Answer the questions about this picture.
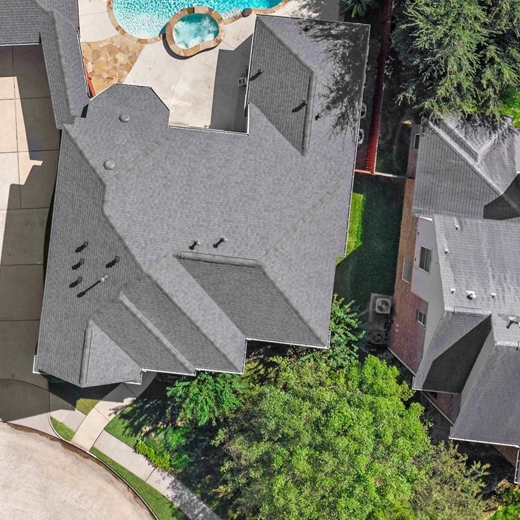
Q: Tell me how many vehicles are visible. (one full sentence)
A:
Not a single vehicle can be seen.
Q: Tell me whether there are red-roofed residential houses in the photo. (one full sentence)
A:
No, there appears to be no red-roofed residential house in this shot.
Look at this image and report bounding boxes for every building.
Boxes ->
[387,115,520,482]
[33,13,373,388]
